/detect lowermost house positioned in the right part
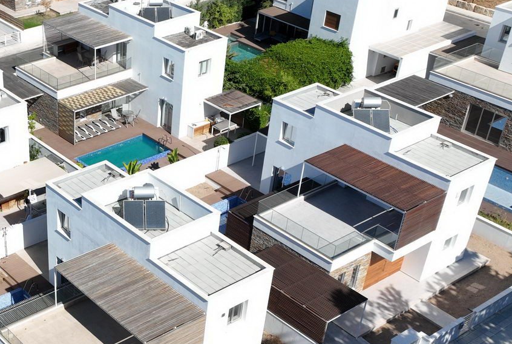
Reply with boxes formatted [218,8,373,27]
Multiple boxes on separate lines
[224,84,497,292]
